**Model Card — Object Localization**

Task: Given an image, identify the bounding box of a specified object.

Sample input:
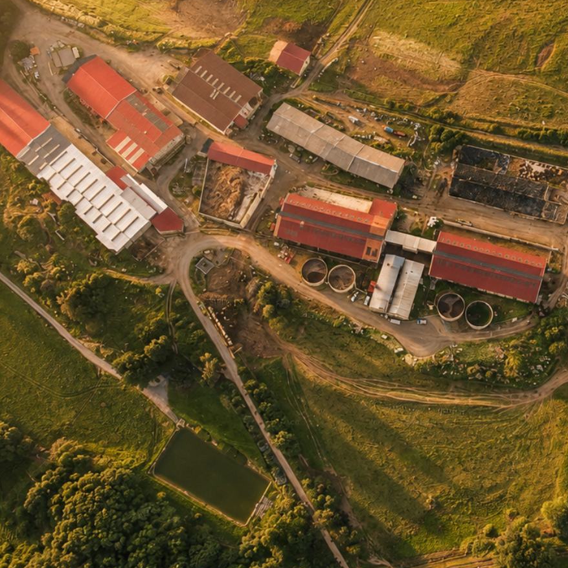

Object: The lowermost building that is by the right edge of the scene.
[428,231,548,304]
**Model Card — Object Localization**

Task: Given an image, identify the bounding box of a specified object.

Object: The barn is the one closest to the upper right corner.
[448,145,568,225]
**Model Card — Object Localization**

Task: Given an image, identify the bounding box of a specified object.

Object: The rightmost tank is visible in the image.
[466,301,494,329]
